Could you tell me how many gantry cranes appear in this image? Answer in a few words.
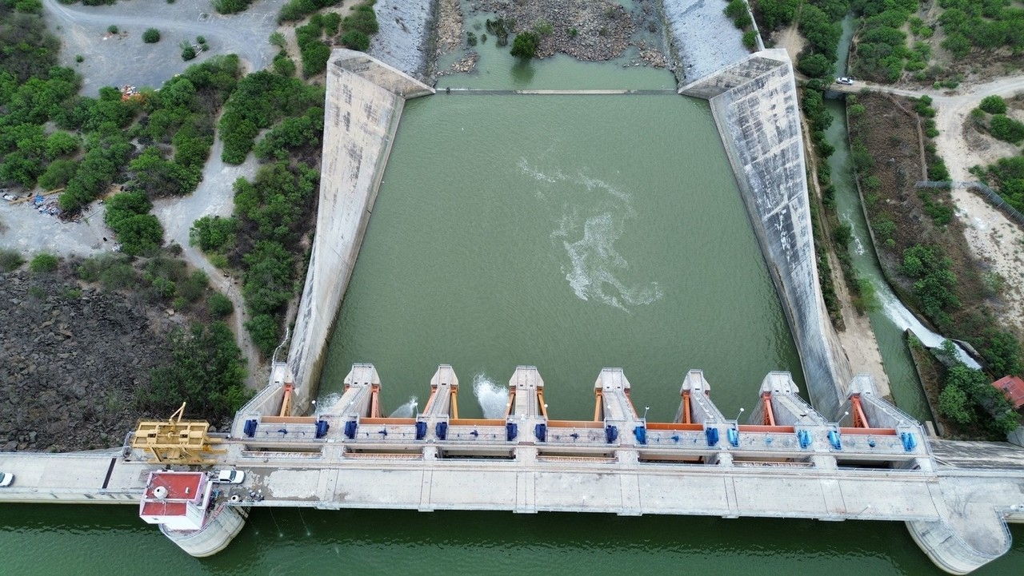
1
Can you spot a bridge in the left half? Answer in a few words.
No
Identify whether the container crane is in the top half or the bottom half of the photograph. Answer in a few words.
bottom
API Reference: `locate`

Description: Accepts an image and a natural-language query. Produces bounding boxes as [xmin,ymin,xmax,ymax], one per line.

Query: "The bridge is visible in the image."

[821,79,867,104]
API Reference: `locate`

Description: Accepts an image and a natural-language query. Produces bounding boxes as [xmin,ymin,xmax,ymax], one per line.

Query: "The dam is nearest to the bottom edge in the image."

[0,361,1024,574]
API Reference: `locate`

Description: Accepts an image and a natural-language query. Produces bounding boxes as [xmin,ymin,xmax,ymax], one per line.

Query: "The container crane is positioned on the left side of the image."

[128,397,241,462]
